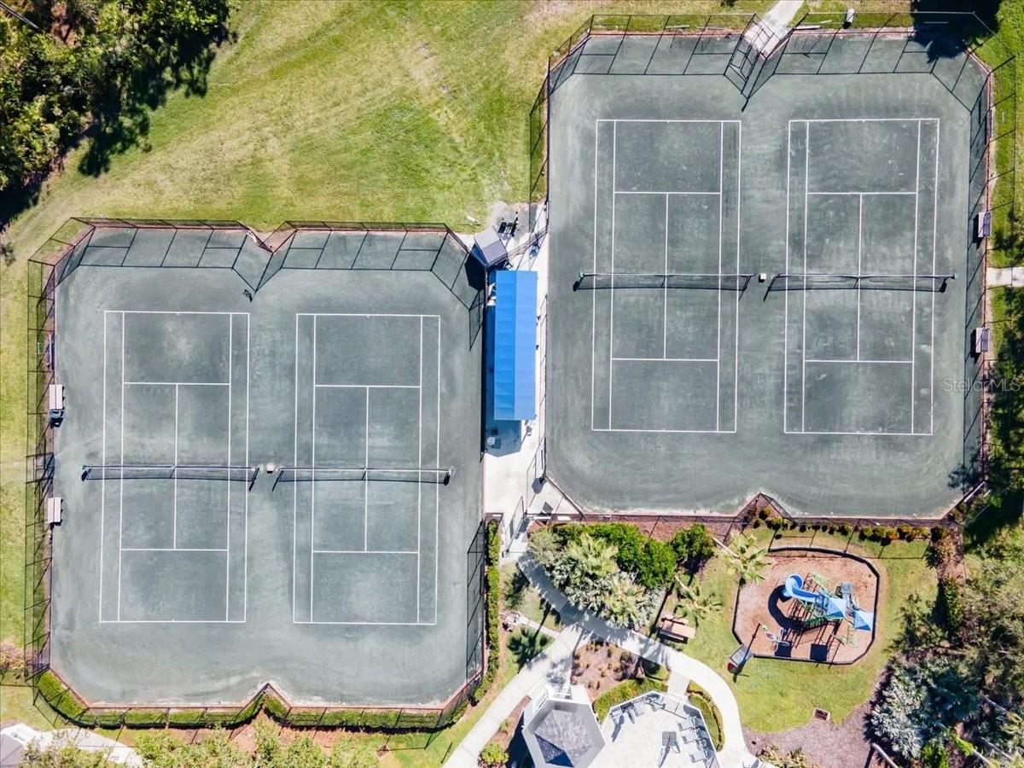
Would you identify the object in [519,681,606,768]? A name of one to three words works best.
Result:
building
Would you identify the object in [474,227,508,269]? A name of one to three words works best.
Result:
shed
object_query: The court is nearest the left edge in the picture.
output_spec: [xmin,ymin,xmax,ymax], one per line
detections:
[51,228,271,707]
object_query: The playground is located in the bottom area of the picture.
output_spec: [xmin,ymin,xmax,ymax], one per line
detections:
[733,548,880,666]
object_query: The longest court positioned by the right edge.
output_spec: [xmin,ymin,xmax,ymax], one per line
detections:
[760,34,989,518]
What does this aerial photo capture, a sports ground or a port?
sports ground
